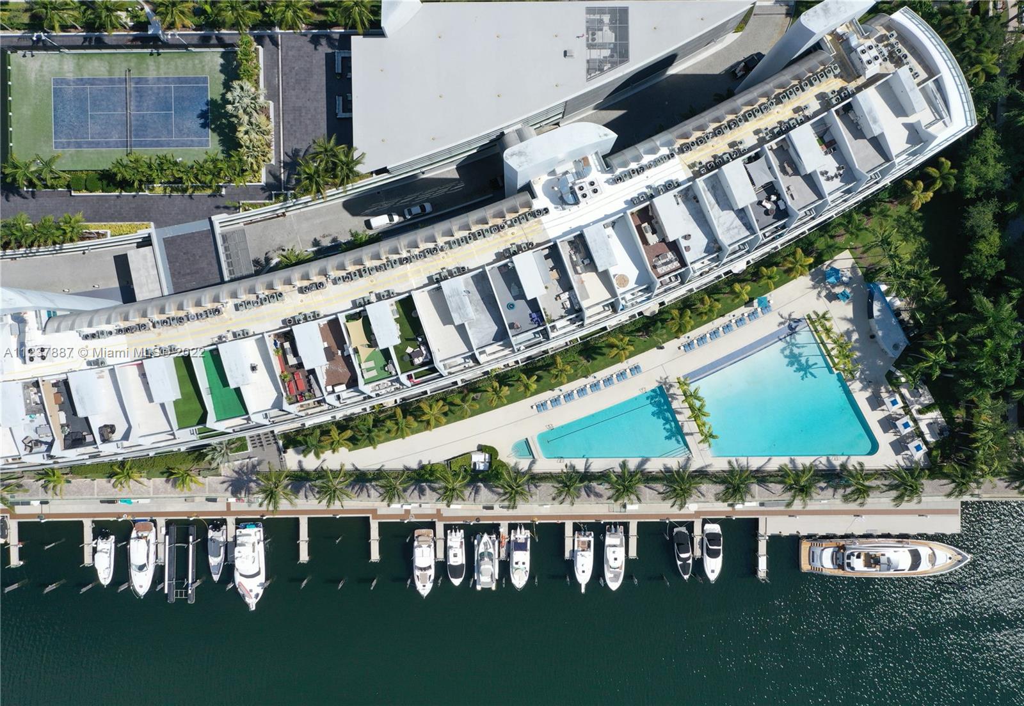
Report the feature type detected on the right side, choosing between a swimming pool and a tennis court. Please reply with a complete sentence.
Looking on the right side, you will find a swimming pool.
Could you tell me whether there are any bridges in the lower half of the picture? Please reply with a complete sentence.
No, no bridge can be made out in the lower half of the picture.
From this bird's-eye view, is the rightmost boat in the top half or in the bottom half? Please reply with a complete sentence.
The rightmost boat is in the bottom half of the image.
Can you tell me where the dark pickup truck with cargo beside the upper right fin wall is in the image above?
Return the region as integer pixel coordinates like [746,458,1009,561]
[731,52,764,81]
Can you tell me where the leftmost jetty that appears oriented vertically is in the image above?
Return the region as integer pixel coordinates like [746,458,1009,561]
[4,520,24,568]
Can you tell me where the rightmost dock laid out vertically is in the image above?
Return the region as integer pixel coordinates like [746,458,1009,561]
[754,533,771,583]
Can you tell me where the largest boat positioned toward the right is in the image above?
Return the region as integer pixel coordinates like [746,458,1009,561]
[796,537,970,577]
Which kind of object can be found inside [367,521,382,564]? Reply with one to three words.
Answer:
pier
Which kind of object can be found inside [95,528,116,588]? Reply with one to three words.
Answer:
boat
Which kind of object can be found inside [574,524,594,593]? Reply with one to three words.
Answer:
boat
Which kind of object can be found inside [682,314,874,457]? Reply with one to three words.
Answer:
swimming pool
